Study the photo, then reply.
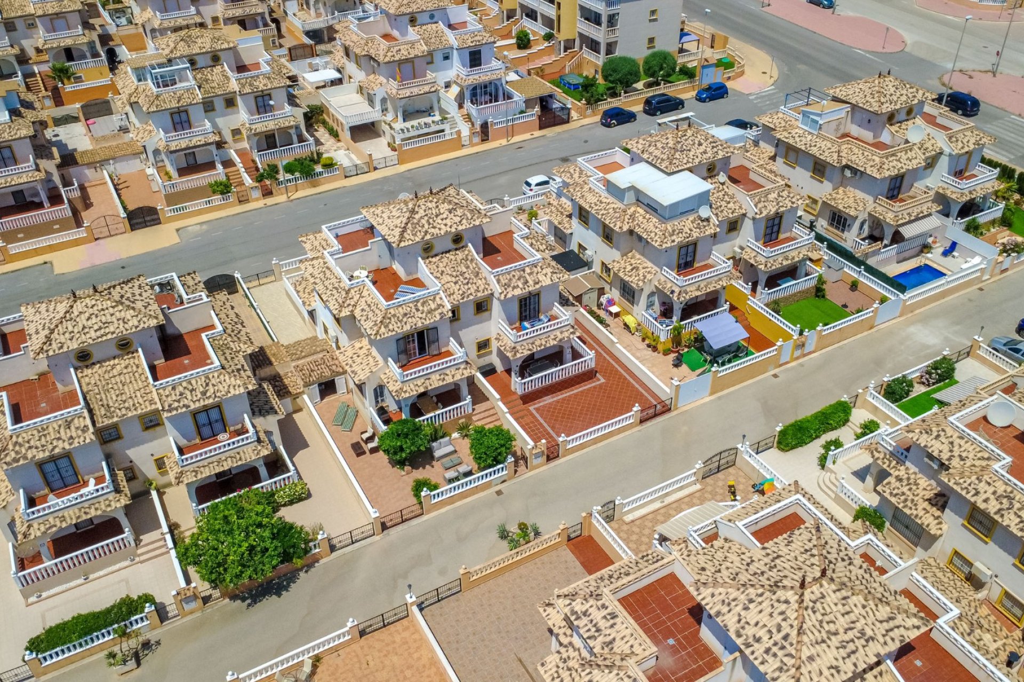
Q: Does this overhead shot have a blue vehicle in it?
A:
Yes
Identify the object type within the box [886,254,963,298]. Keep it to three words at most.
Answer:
swimming pool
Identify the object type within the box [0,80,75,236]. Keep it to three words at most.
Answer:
house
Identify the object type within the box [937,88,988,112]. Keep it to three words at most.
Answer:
car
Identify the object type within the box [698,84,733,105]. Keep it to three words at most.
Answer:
car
